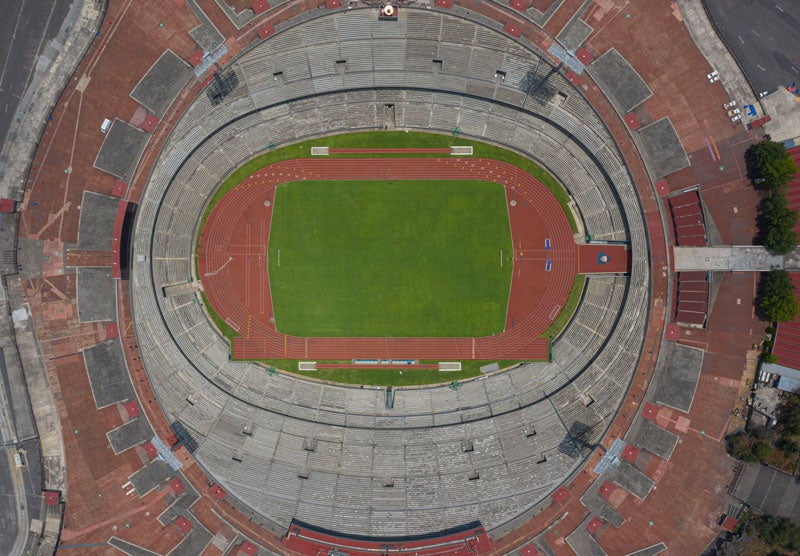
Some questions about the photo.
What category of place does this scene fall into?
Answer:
sports ground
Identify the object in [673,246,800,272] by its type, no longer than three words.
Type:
bridge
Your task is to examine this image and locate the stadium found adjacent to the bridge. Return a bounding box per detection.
[112,6,652,556]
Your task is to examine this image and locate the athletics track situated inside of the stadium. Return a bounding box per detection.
[200,159,581,359]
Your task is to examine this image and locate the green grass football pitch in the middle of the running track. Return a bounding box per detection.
[267,180,513,337]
